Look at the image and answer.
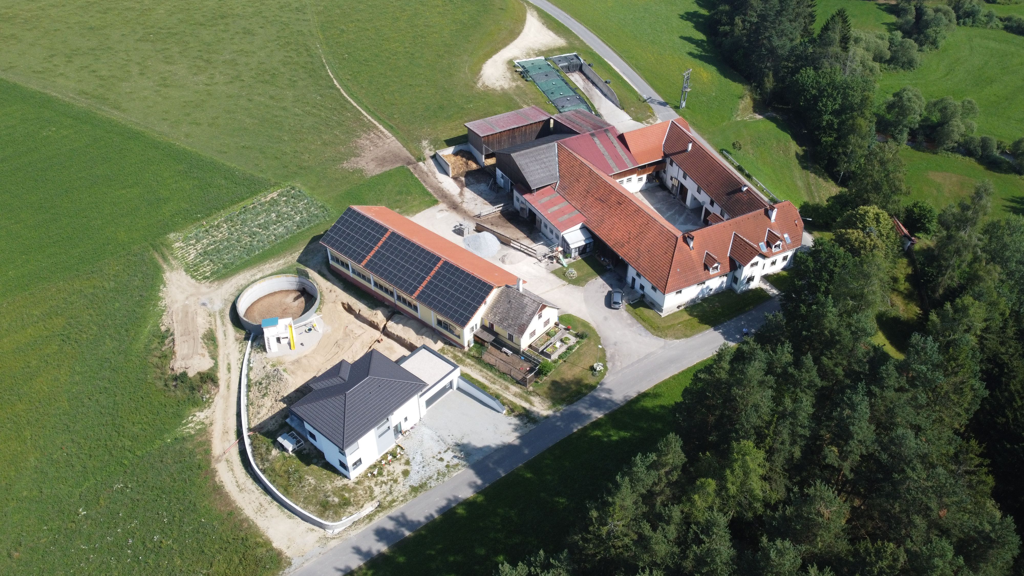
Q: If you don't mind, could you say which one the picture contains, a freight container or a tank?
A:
tank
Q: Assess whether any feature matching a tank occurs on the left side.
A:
Yes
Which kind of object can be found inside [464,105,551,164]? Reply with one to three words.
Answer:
barn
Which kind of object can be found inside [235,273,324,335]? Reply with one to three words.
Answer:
storage tank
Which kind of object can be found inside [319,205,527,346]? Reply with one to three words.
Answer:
shed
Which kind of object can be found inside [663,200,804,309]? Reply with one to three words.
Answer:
house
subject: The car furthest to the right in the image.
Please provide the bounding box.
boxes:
[611,288,624,308]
